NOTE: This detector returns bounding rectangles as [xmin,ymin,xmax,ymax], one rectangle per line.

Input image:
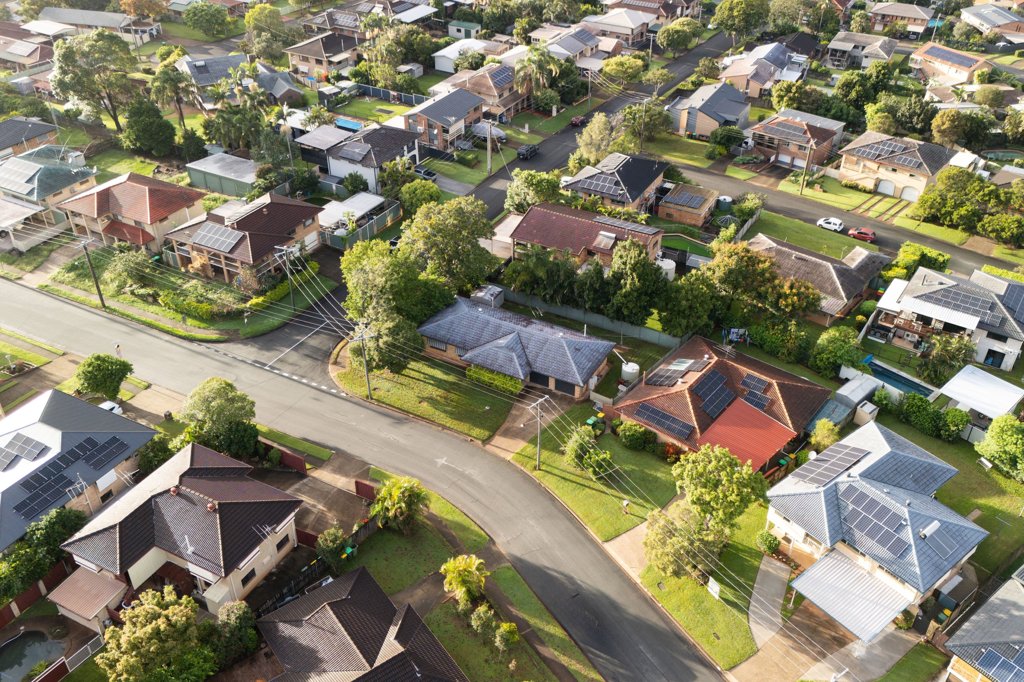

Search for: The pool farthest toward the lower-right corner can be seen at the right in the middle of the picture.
[864,359,930,394]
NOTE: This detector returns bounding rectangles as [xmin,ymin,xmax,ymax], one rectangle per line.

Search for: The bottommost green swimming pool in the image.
[664,235,703,258]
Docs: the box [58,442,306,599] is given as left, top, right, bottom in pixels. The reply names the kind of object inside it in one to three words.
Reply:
house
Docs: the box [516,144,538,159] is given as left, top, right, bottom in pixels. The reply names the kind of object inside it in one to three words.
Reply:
car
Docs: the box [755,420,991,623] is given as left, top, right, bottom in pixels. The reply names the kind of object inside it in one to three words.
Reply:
house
